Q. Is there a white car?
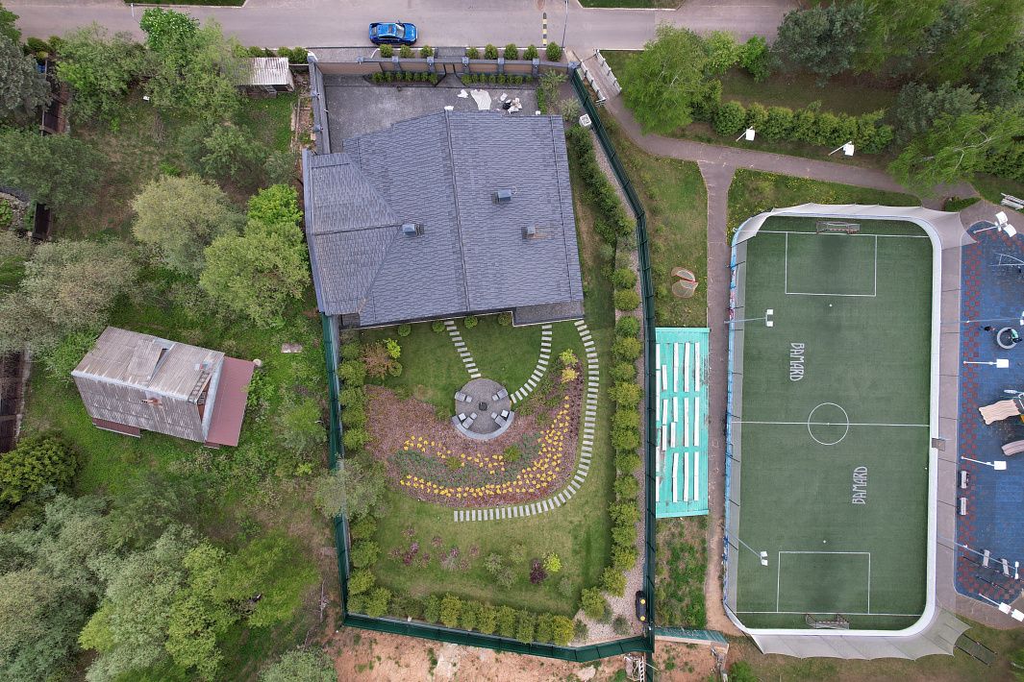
No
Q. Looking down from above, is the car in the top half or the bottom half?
top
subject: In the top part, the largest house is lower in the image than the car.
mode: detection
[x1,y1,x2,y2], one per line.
[301,104,584,331]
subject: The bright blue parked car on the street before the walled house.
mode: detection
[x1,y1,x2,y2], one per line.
[369,19,417,45]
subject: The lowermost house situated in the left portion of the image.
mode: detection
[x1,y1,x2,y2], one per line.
[70,327,255,454]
